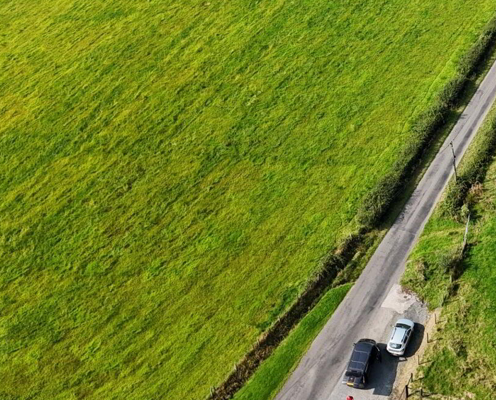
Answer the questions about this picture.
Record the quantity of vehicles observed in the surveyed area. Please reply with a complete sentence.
The number of vehicles here is 2.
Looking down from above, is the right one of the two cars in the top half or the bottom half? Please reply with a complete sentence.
You can find the right one of the two cars in the bottom half.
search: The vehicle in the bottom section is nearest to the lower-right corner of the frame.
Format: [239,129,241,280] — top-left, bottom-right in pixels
[385,319,415,358]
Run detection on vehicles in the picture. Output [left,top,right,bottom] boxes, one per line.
[340,338,379,386]
[385,319,415,358]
